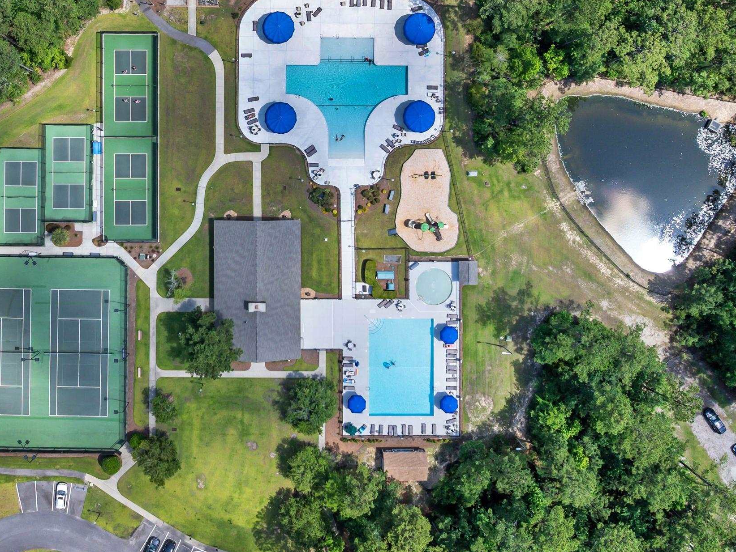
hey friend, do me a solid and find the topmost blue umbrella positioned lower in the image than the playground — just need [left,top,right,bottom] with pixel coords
[440,327,457,343]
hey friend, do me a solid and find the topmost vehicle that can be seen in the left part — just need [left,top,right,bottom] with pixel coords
[55,482,69,508]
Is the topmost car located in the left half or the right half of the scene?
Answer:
right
